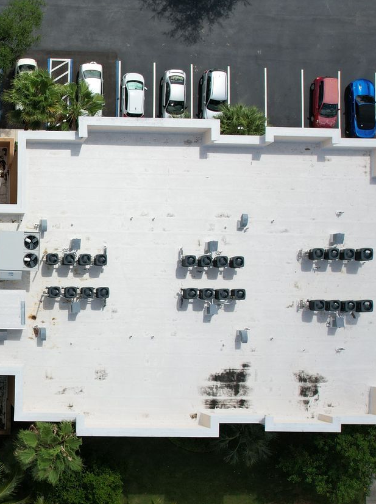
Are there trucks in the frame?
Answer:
No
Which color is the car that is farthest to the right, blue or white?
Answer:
blue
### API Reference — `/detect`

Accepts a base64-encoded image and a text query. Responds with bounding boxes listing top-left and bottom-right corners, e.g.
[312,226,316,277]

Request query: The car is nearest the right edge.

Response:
[346,78,376,139]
